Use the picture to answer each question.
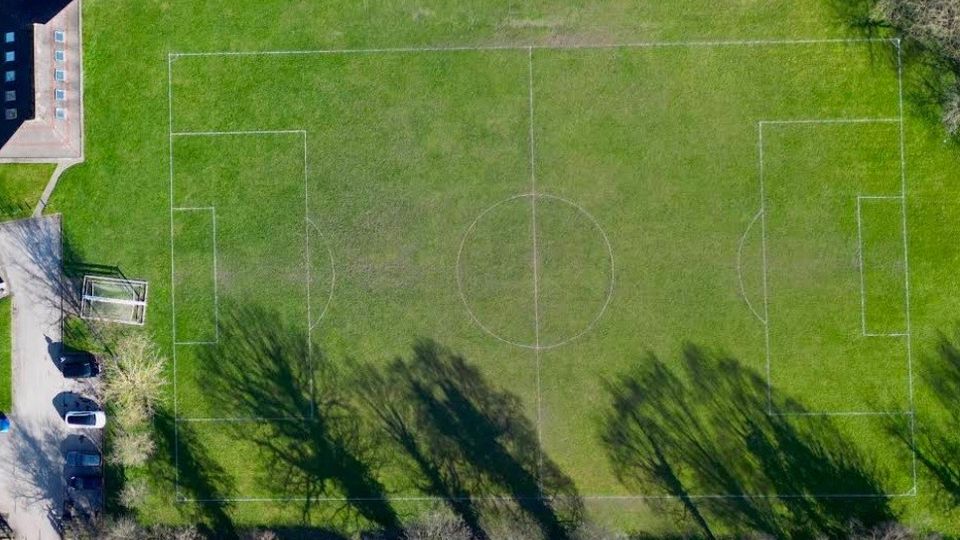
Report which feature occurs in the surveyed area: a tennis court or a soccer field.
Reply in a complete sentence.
This aerial view contains a soccer field.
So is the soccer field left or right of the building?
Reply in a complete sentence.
In the image, the soccer field sits on the right side of the building.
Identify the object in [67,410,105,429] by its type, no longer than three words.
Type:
car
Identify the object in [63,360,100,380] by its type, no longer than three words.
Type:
car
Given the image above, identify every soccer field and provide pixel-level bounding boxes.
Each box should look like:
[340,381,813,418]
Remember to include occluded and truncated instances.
[166,35,919,505]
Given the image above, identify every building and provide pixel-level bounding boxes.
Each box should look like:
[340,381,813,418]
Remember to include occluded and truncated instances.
[0,0,82,158]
